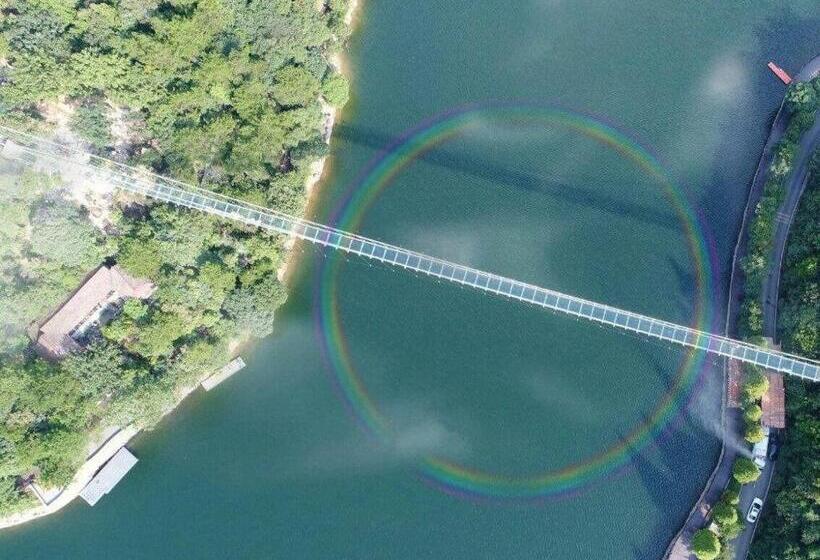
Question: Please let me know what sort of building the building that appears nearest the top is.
home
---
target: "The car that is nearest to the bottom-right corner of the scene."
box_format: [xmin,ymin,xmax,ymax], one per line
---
[745,497,764,523]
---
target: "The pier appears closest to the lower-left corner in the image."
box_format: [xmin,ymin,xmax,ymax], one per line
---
[202,357,247,392]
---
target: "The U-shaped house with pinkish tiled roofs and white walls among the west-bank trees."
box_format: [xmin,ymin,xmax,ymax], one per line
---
[37,259,157,361]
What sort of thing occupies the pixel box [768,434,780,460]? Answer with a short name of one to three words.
vehicle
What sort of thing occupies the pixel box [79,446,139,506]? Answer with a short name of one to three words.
building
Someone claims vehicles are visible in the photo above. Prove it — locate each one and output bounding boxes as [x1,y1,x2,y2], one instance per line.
[768,434,780,460]
[750,429,770,467]
[745,497,764,523]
